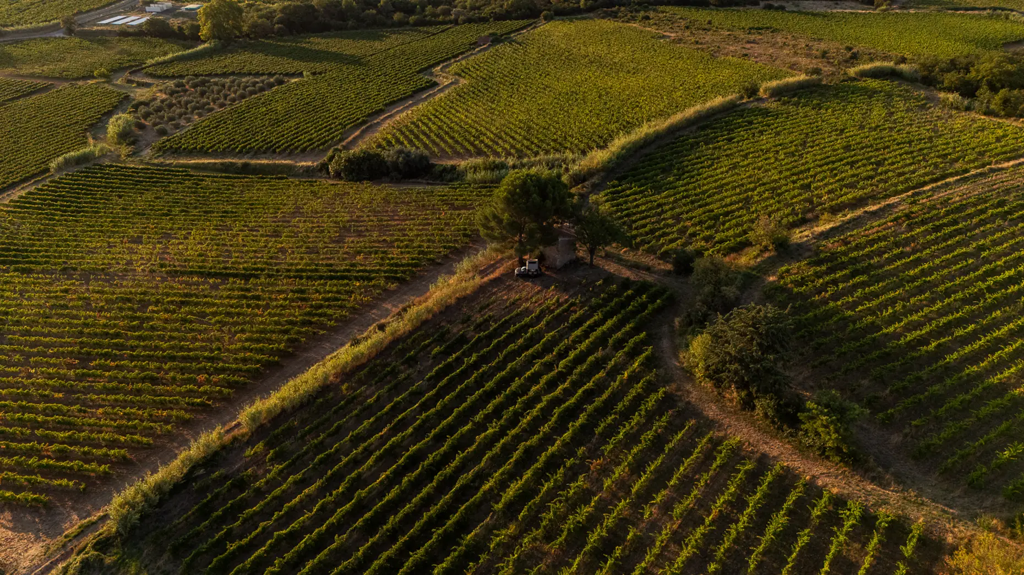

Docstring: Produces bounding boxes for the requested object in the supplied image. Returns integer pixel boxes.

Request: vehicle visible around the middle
[514,258,542,278]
